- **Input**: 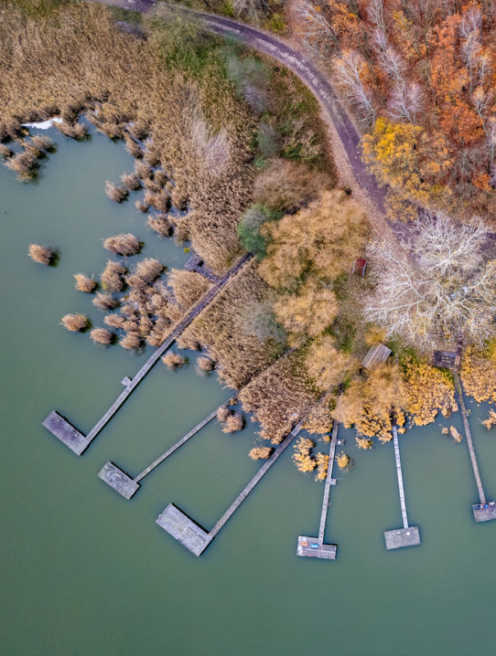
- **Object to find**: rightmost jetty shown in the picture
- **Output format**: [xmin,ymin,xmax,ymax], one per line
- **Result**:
[453,370,496,522]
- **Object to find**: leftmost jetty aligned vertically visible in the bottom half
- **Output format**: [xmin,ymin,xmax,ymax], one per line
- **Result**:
[297,406,346,560]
